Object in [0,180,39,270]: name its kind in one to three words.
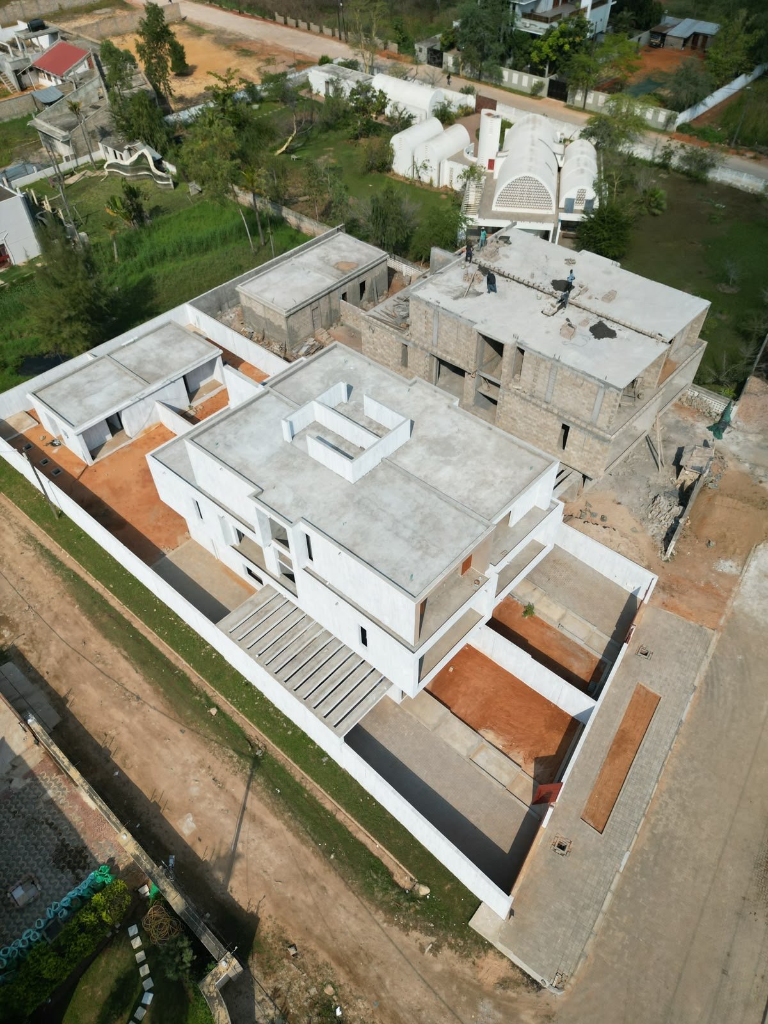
house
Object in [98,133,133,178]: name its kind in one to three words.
house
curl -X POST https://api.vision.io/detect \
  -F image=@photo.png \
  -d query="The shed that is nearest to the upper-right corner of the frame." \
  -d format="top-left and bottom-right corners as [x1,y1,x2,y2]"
[658,18,713,56]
